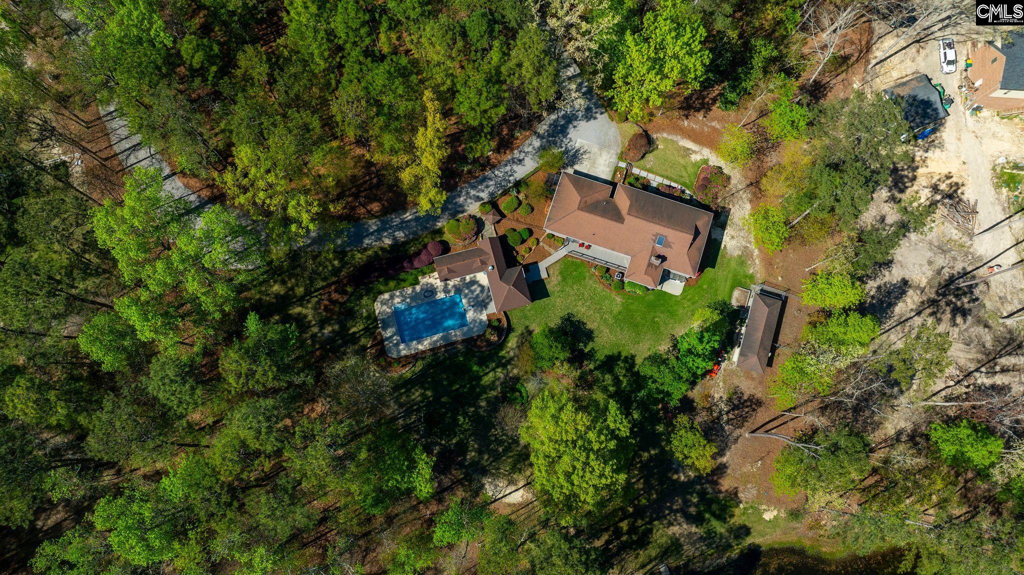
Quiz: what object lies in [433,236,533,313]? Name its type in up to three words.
building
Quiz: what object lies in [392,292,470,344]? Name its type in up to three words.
swimming pool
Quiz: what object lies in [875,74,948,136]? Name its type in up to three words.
shed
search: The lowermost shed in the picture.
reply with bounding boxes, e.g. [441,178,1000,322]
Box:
[734,293,782,375]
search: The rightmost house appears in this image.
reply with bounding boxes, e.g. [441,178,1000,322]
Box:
[967,33,1024,111]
